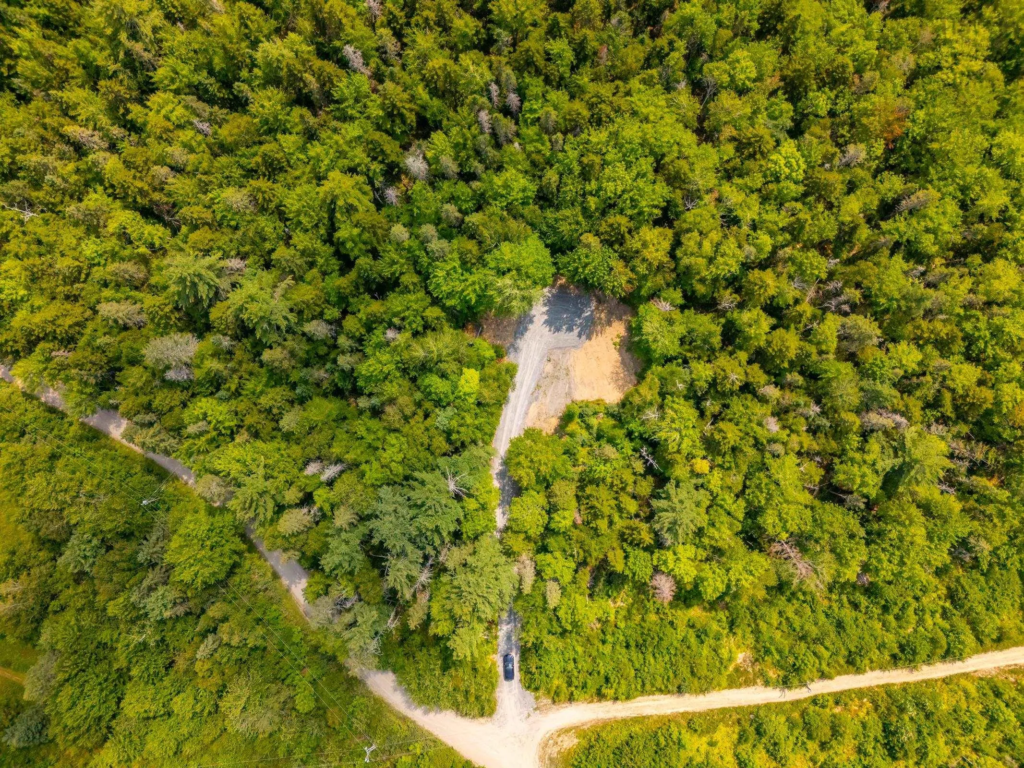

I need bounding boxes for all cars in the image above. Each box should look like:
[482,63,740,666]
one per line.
[503,654,515,681]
